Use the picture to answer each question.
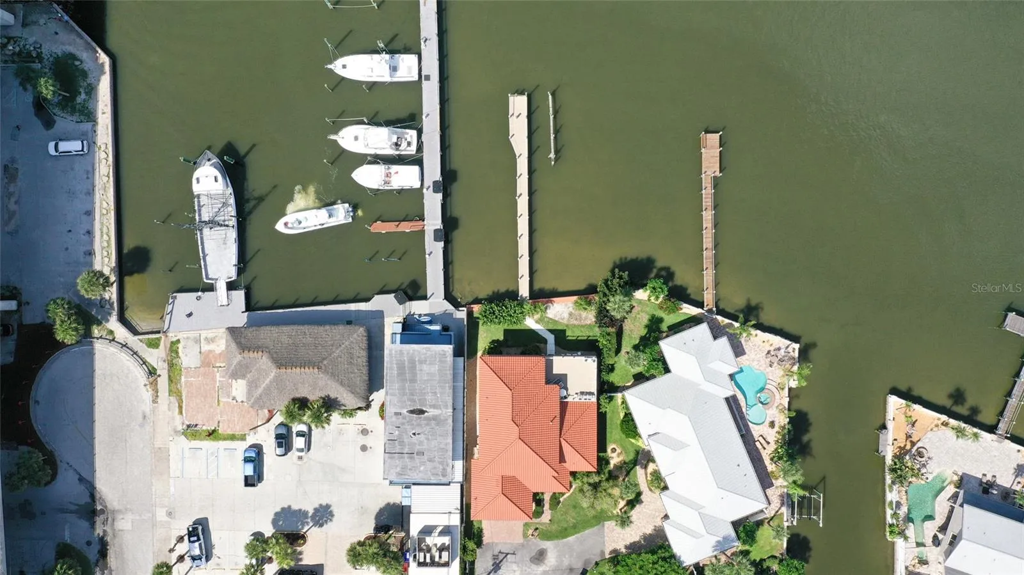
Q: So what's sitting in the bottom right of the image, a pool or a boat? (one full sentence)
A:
The one visible in the bottom right of the image is a pool.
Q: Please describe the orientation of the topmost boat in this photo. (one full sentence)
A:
The topmost boat has been laid out from side to side relative to the frame.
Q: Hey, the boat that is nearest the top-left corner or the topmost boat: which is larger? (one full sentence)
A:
The boat that is nearest the top-left corner covers a greater area than the topmost boat.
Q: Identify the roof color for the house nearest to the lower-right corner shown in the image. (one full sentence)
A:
From above, the roof of the house nearest to the lower-right corner looks white.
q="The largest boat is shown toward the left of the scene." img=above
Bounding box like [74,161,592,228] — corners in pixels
[160,147,238,283]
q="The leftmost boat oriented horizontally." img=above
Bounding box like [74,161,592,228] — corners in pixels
[275,206,358,232]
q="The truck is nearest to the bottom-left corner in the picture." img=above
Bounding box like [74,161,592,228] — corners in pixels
[187,523,209,566]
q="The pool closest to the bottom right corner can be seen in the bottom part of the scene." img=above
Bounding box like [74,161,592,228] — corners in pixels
[905,470,951,561]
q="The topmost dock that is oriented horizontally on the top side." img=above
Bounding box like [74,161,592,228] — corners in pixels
[367,219,425,234]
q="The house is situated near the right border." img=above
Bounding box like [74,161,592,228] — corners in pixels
[929,486,1024,575]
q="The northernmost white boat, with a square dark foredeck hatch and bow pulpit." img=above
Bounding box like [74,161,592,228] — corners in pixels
[324,38,420,82]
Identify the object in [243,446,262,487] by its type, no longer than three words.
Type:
vehicle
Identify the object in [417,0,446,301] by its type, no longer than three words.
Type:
pier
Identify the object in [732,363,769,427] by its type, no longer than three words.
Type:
swimming pool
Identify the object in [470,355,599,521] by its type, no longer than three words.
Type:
house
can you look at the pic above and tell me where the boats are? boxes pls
[351,165,424,190]
[323,120,419,158]
[324,38,420,82]
[275,206,358,232]
[160,147,238,283]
